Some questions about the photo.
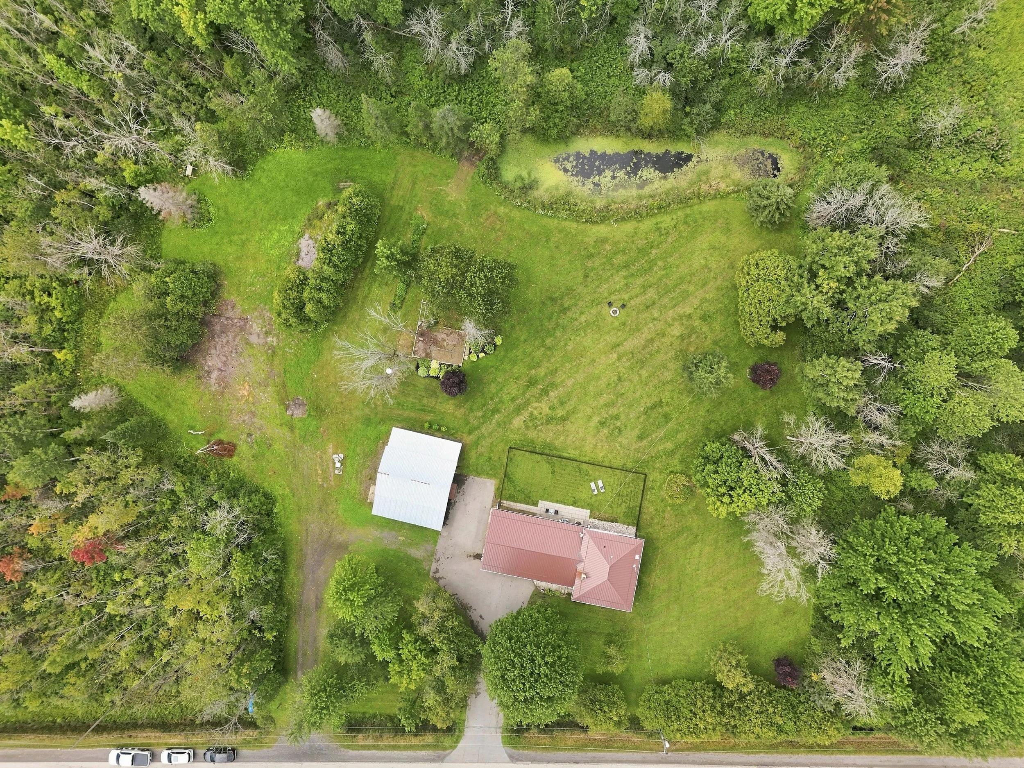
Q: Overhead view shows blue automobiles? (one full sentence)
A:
No, there's no blue automobile here.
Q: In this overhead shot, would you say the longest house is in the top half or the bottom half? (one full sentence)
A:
It is in the bottom half that the longest house appears.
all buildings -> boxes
[372,427,462,531]
[480,501,645,612]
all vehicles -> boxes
[109,747,154,768]
[204,746,237,765]
[161,747,196,766]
